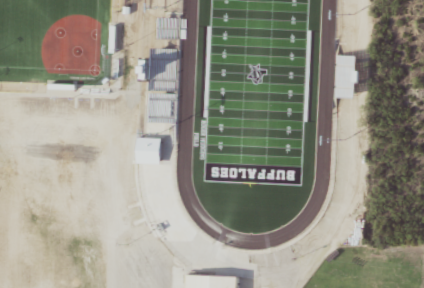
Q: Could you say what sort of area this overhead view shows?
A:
sports ground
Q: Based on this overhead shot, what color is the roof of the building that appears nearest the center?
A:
white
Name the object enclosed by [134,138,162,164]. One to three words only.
building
